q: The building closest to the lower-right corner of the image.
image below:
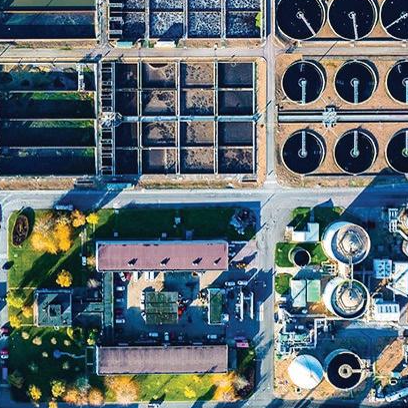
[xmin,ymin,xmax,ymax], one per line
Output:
[373,301,400,316]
